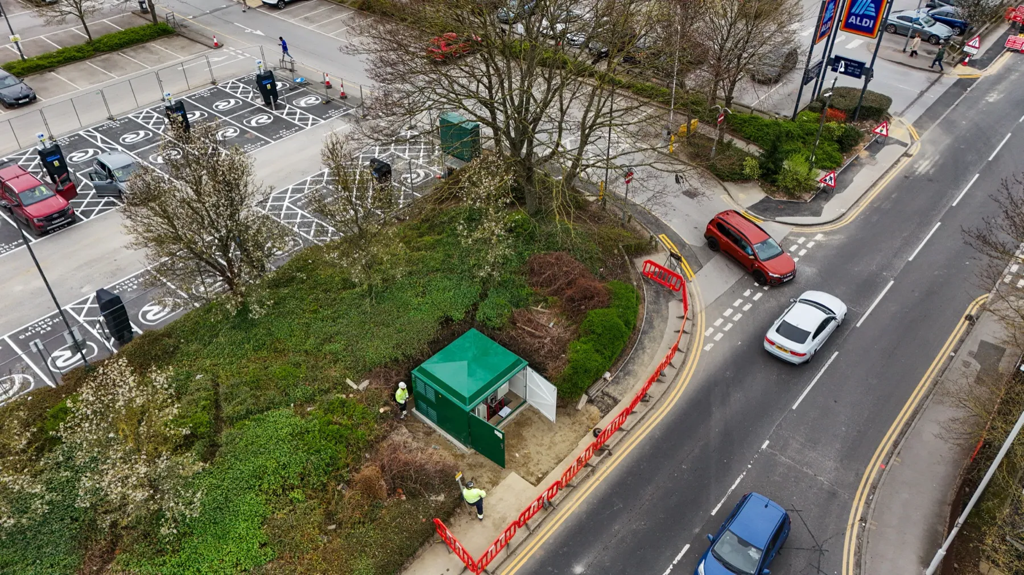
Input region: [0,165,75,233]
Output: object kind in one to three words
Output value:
car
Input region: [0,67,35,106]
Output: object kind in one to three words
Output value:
car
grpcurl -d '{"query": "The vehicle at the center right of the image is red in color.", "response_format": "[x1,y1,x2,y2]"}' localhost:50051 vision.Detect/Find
[709,207,799,282]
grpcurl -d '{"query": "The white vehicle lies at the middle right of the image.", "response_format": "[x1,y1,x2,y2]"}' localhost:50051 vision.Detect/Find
[770,286,849,358]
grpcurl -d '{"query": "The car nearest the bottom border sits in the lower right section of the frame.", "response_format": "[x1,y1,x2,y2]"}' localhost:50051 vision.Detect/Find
[699,496,796,575]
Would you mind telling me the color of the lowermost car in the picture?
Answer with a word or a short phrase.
blue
